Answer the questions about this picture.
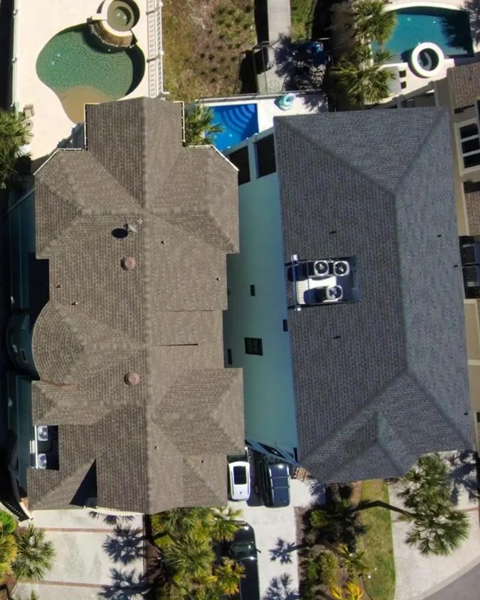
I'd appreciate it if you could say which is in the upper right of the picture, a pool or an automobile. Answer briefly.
pool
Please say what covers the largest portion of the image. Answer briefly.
buildings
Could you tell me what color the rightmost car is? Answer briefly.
black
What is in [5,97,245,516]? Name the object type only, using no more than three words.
house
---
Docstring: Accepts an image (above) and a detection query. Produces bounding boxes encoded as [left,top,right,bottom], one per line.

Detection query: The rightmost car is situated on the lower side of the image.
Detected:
[255,445,294,506]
